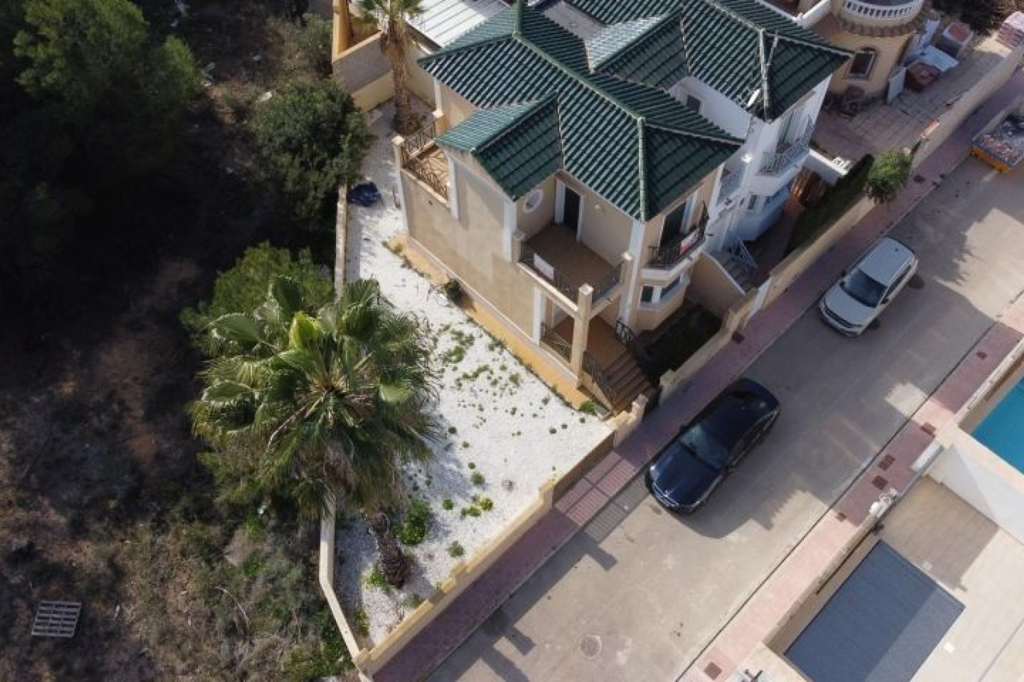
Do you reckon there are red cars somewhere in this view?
No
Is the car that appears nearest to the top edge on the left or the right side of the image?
right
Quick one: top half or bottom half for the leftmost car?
bottom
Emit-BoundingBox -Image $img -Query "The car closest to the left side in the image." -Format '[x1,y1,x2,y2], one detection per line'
[646,382,780,513]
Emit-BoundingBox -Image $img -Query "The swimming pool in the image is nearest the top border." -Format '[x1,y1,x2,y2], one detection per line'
[971,368,1024,468]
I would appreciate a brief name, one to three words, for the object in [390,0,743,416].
house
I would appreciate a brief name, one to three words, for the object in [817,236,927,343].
car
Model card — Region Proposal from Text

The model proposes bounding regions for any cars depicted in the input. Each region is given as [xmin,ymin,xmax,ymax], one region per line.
[817,236,927,343]
[646,382,780,513]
